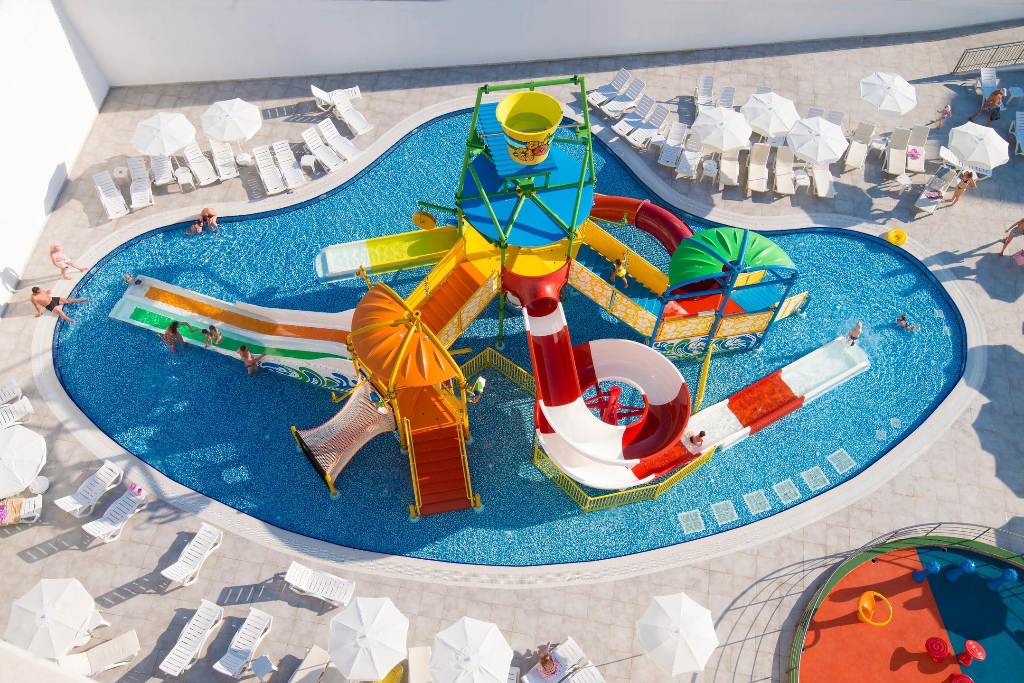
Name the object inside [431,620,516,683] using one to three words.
umbrella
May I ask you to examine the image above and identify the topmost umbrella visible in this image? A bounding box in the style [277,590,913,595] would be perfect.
[860,77,916,123]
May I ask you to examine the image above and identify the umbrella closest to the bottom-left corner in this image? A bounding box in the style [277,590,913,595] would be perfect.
[8,577,102,662]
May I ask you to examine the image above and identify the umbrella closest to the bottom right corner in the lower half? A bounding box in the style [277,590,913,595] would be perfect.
[634,595,716,677]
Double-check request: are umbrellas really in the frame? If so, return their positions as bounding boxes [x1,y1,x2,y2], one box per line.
[737,96,796,163]
[860,77,916,123]
[431,620,516,683]
[634,595,716,677]
[134,120,197,190]
[690,111,746,178]
[782,122,841,190]
[0,430,57,503]
[8,577,102,662]
[204,102,264,168]
[325,597,410,683]
[943,124,1003,194]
